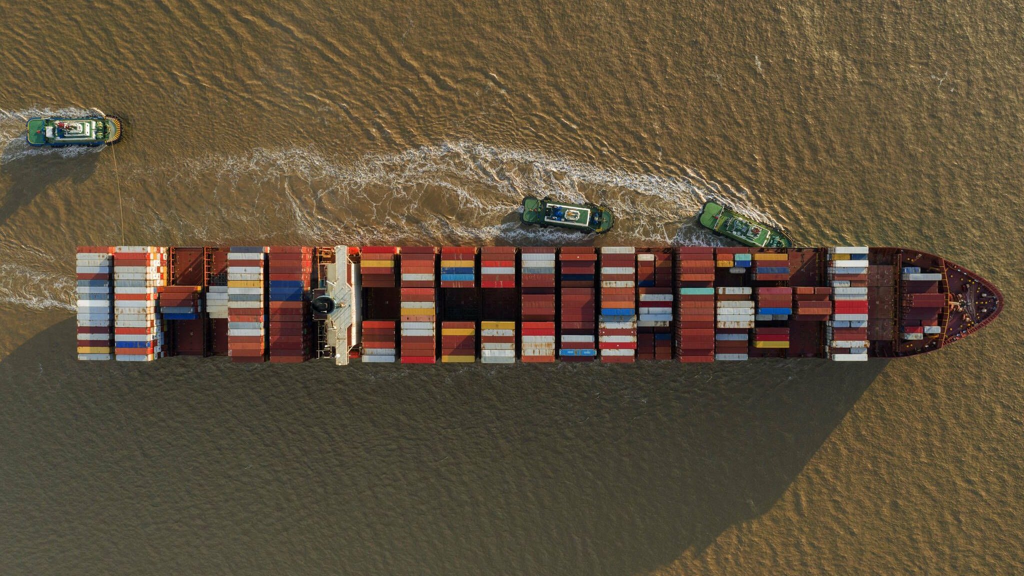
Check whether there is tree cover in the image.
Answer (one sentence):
No, there is no tree cover in the image.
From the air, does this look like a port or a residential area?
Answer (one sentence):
This image shows a port.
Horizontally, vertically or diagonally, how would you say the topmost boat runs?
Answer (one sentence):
In this picture, the topmost boat lies horizontally.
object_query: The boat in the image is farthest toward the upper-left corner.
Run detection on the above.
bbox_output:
[27,116,123,147]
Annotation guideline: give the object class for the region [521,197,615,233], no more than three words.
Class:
boat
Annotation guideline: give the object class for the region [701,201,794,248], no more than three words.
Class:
boat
